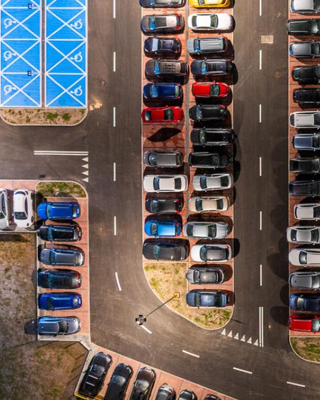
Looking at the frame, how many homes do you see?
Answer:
0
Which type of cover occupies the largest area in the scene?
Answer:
paved ground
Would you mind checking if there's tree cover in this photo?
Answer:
No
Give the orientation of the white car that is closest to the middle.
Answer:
horizontally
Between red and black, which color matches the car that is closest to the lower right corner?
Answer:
red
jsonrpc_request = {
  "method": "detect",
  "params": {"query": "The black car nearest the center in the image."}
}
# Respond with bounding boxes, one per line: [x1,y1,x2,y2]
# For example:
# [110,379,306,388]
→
[147,196,182,216]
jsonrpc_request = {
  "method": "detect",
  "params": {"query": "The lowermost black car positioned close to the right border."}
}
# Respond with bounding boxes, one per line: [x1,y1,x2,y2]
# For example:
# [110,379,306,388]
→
[289,292,320,313]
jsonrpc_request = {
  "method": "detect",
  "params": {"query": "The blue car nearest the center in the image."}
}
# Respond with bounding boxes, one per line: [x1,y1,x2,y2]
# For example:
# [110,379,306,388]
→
[146,219,182,239]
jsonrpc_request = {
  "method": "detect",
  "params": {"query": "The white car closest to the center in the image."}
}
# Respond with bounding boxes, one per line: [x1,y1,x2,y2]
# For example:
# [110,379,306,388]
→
[145,174,188,194]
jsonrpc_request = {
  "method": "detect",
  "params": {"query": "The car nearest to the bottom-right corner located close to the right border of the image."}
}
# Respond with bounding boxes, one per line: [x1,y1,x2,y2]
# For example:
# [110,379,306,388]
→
[289,313,320,335]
